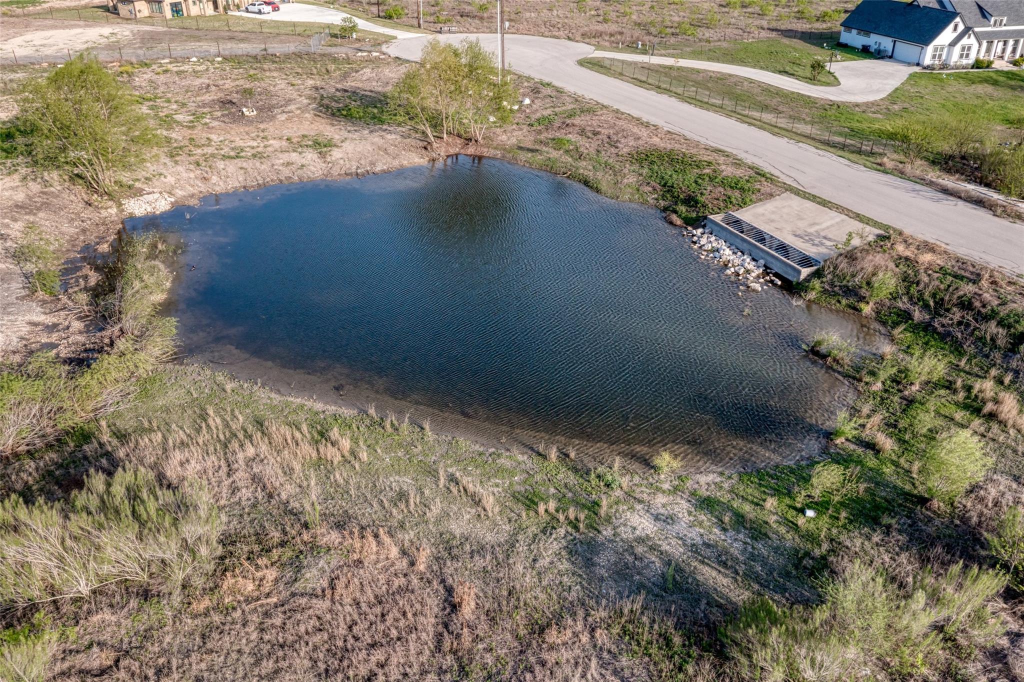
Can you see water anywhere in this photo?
Yes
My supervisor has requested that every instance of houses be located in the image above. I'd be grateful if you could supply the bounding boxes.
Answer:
[838,0,1024,66]
[105,0,273,19]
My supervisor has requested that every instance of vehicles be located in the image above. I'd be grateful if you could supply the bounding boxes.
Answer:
[264,1,284,12]
[242,1,273,14]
